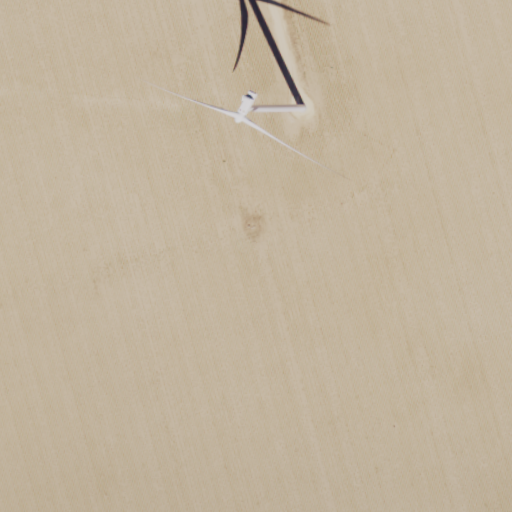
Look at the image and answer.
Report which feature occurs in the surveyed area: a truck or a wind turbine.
wind turbine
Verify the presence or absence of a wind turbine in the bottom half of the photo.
No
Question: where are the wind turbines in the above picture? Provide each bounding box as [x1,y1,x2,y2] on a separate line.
[142,81,343,178]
